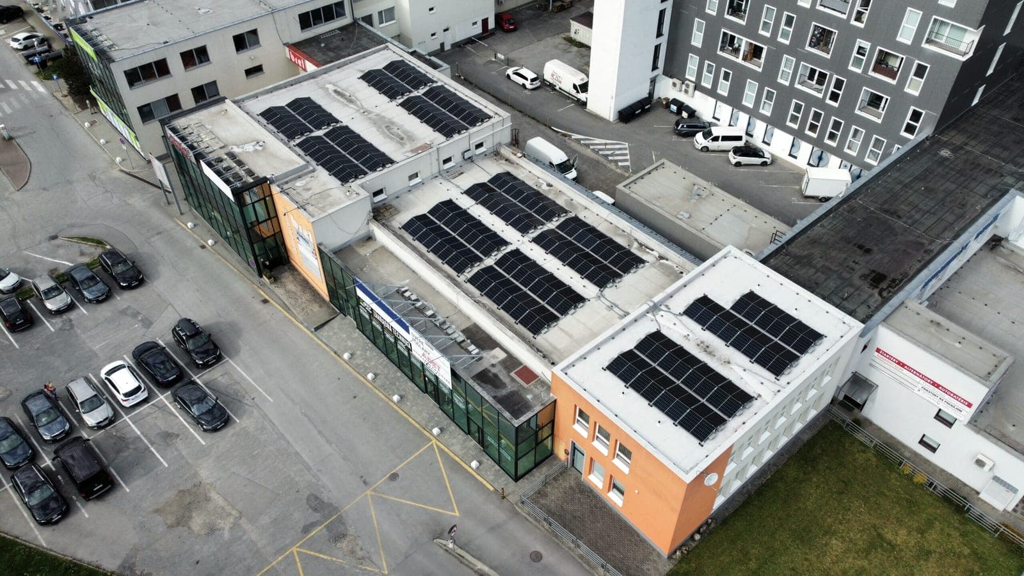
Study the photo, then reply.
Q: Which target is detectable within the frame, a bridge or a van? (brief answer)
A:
van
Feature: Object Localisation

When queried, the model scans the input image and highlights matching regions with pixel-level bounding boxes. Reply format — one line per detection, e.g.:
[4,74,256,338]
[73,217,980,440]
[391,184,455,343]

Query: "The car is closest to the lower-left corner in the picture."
[6,466,65,528]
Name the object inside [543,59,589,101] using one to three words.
van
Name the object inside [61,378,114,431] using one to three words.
car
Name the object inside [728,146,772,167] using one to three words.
car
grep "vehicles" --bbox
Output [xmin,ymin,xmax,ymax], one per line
[16,392,70,444]
[524,136,583,183]
[505,67,543,90]
[6,466,65,528]
[0,419,32,473]
[12,31,54,50]
[673,117,718,138]
[22,277,69,316]
[98,363,149,409]
[168,320,218,369]
[694,127,747,152]
[55,440,114,505]
[498,10,517,32]
[128,345,180,389]
[61,378,114,431]
[91,254,140,293]
[169,384,225,435]
[0,260,28,293]
[59,266,106,306]
[543,59,589,101]
[728,146,772,167]
[0,295,32,333]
